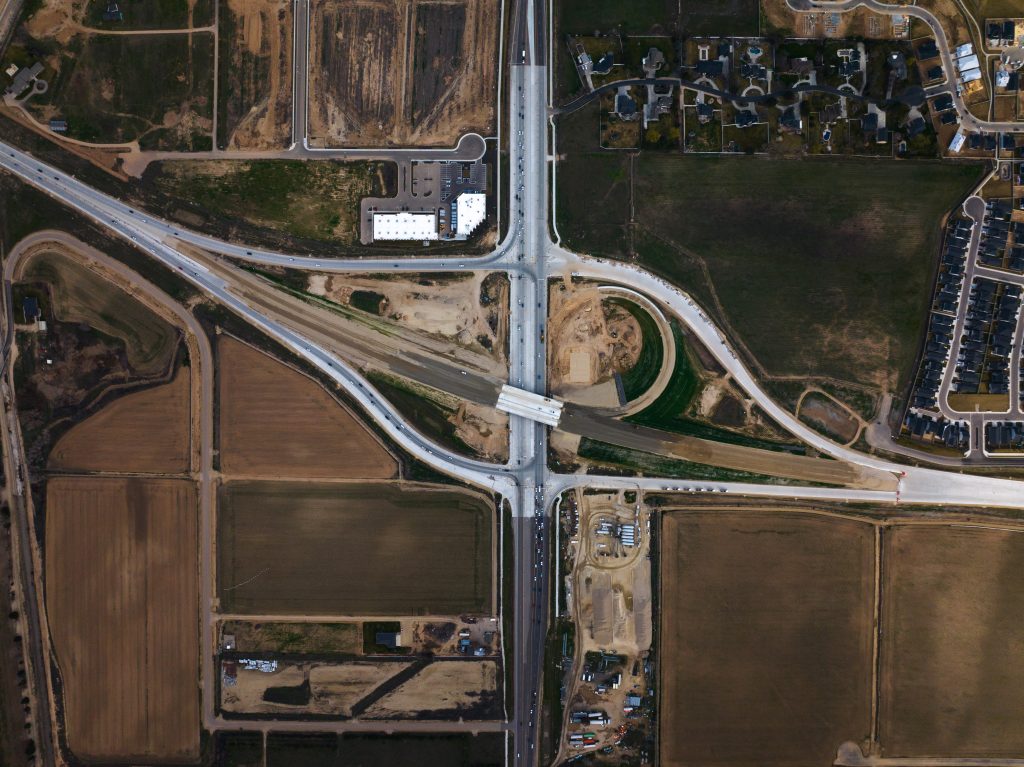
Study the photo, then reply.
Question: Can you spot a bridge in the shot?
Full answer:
Yes, the frame does contain a bridge.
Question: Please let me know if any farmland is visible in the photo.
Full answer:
Yes, farmland can be seen from above here.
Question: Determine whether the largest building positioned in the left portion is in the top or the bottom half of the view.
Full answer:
Seen from above, the largest building positioned in the left portion lies in the top half of the view.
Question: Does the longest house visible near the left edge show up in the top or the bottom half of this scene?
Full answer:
You can find the longest house visible near the left edge in the top half.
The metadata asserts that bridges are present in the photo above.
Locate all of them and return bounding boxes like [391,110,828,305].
[496,376,564,434]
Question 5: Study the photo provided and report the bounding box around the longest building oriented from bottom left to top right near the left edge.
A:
[8,63,39,96]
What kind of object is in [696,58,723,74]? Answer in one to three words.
house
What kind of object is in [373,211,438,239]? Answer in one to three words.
building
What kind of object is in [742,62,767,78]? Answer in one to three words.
house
